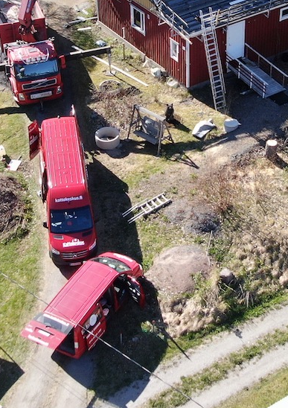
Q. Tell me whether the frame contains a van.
Yes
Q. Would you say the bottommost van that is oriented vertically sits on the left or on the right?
left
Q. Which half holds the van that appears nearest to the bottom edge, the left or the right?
left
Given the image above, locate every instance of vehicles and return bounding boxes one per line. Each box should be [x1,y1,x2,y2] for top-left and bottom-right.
[0,0,114,110]
[20,255,145,352]
[23,113,100,259]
